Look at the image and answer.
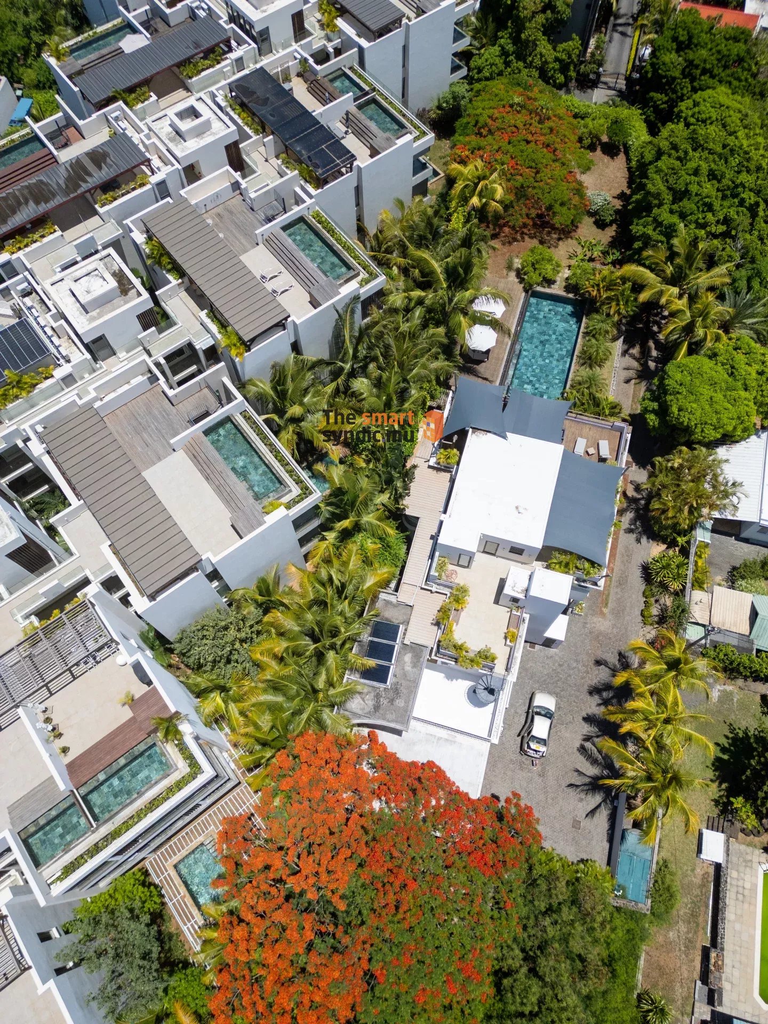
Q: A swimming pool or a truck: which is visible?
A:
swimming pool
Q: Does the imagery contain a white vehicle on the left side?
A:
No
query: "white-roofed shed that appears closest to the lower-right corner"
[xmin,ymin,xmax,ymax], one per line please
[688,829,725,864]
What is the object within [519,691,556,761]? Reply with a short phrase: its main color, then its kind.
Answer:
white car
